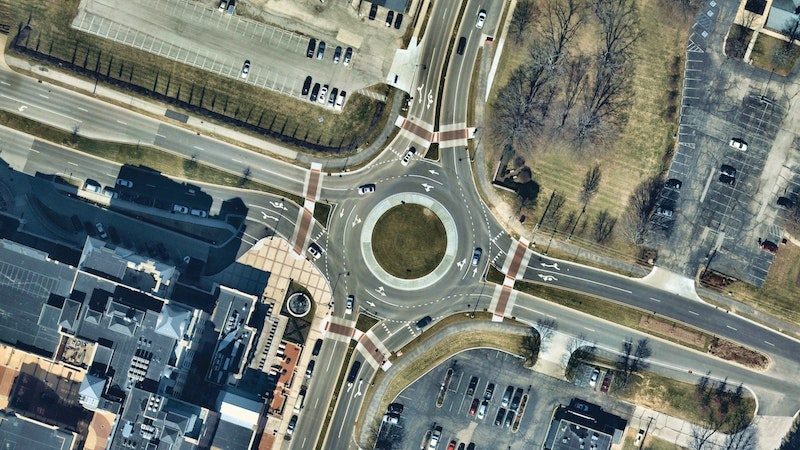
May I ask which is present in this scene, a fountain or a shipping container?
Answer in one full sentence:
There is a fountain in the scene.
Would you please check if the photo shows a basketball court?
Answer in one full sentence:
No, the picture doesn't show any basketball court.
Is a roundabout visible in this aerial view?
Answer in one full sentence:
Yes, looking at the shot, I can spot a roundabout.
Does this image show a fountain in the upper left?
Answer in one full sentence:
No, there's no fountain to be seen in the upper left.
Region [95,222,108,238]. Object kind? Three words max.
vehicle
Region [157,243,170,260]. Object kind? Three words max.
vehicle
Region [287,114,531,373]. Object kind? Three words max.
roundabout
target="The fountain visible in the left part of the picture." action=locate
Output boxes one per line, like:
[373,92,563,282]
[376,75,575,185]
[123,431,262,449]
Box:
[287,292,312,317]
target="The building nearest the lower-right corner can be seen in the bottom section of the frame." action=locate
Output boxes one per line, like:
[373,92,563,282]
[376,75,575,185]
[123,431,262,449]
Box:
[544,409,623,450]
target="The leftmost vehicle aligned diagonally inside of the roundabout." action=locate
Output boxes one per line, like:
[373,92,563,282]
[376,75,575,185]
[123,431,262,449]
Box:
[307,243,323,259]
